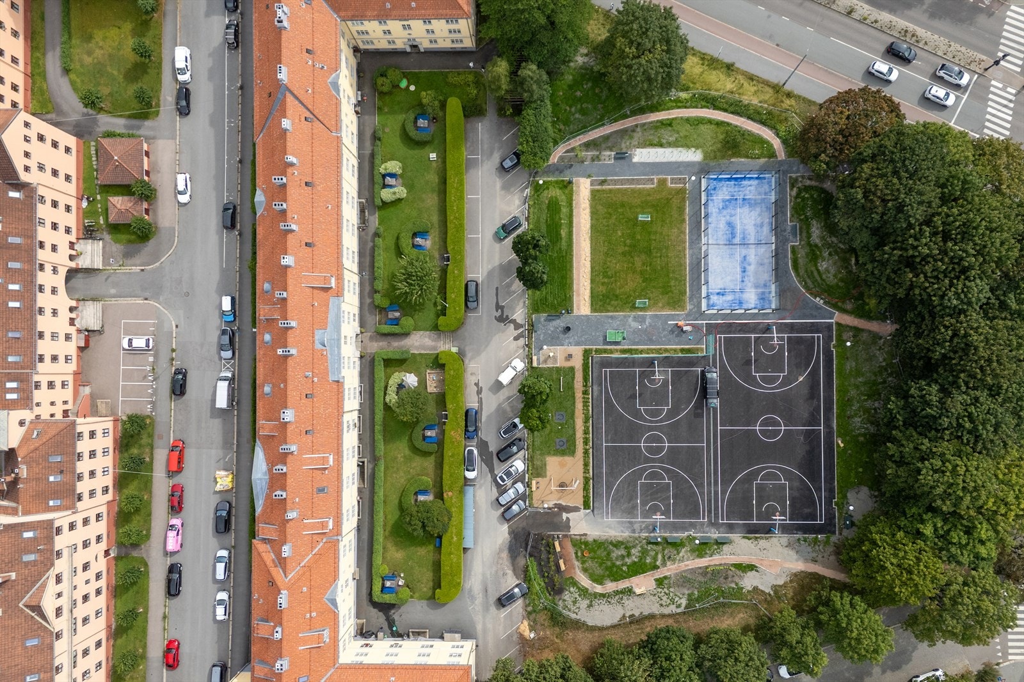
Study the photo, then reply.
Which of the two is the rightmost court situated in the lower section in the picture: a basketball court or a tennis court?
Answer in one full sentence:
What you see as the rightmost court situated in the lower section is a basketball court.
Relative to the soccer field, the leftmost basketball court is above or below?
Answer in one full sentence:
Relative to the soccer field, the leftmost basketball court lies below it.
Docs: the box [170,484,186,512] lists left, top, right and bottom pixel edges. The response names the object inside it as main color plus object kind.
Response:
red car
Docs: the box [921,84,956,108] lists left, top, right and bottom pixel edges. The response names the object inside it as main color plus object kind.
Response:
white car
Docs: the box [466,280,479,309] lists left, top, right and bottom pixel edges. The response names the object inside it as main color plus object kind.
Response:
gray vehicle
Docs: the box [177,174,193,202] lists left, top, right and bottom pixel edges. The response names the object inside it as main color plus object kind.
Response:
white car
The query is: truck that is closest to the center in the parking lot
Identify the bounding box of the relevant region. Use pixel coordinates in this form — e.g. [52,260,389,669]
[496,358,528,387]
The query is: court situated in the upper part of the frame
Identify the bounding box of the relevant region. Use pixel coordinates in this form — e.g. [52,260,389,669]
[701,168,782,313]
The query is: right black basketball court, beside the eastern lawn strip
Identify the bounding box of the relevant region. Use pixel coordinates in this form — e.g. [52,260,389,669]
[706,322,836,535]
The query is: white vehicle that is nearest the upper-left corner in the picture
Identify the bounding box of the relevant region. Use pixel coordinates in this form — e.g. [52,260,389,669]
[176,46,192,82]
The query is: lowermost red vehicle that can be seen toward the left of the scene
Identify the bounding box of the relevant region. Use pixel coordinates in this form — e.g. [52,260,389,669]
[165,639,181,670]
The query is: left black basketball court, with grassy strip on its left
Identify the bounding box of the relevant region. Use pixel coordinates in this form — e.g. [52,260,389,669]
[592,354,712,535]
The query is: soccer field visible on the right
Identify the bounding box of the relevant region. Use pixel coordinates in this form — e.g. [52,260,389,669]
[591,178,687,313]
